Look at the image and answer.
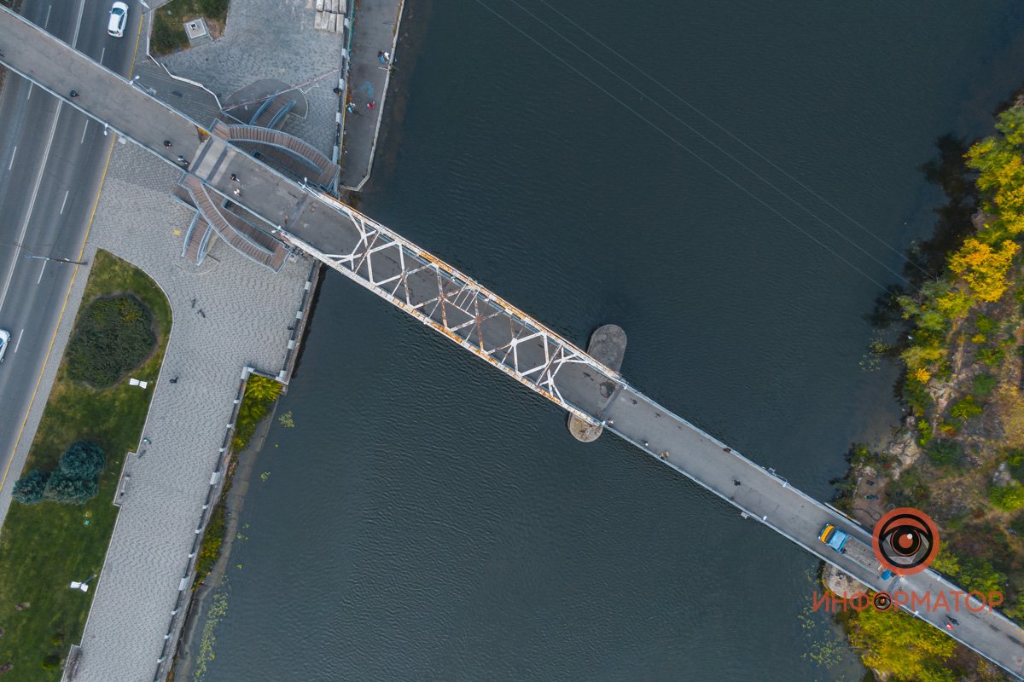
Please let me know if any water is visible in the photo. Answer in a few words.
Yes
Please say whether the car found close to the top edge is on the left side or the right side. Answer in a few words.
left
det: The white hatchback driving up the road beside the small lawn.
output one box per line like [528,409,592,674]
[107,1,130,38]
